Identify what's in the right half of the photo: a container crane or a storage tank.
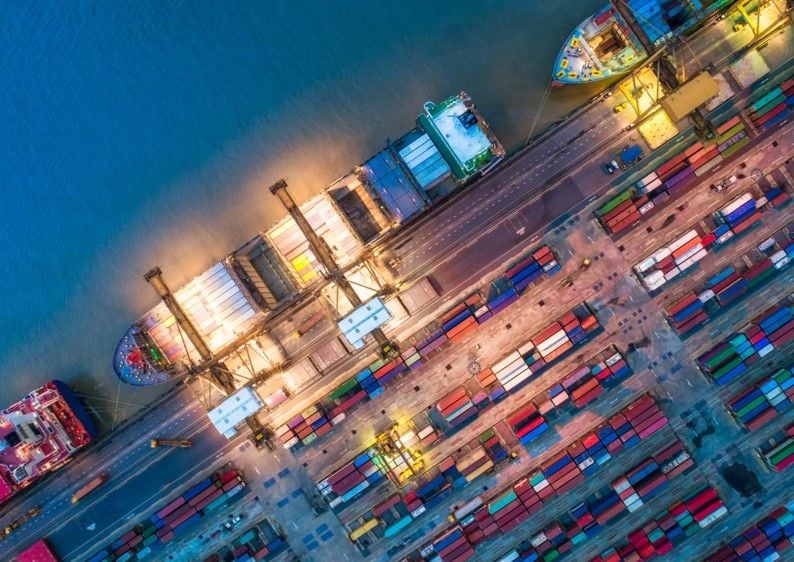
container crane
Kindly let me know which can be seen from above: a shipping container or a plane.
shipping container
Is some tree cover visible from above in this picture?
No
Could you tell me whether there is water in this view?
Yes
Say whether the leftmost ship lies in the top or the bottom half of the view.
bottom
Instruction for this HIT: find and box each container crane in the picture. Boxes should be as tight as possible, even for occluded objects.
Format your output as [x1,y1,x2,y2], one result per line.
[270,183,395,356]
[707,0,794,61]
[368,415,429,494]
[594,0,721,139]
[142,269,286,445]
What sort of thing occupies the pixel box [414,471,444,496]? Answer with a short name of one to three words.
shipping container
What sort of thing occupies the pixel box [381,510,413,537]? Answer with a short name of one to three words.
shipping container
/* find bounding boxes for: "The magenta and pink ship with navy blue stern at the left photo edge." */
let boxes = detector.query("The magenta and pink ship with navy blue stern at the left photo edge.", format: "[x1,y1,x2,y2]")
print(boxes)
[0,382,106,498]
